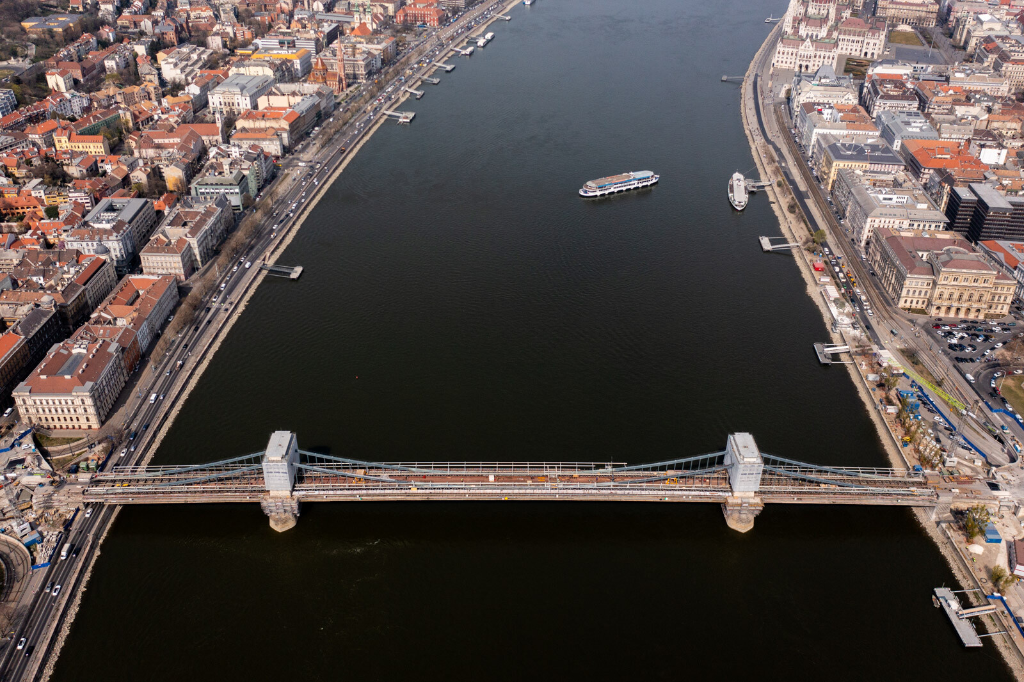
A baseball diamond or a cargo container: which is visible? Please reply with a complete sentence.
Visible in the photo is a cargo container.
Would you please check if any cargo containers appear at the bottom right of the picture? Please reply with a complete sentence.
Yes, at the bottom right of the picture there is a cargo container.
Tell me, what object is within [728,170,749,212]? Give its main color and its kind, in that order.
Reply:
white ship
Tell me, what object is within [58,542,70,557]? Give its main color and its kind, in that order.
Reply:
white vehicle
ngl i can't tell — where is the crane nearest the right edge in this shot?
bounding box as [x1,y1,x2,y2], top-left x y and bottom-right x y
[884,354,999,467]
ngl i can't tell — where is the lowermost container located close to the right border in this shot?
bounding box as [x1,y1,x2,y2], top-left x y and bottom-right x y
[976,520,1010,545]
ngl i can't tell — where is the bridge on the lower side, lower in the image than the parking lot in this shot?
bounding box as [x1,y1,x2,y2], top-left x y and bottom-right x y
[0,431,1024,533]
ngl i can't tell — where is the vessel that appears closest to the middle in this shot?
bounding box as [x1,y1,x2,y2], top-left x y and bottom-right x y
[579,169,659,198]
